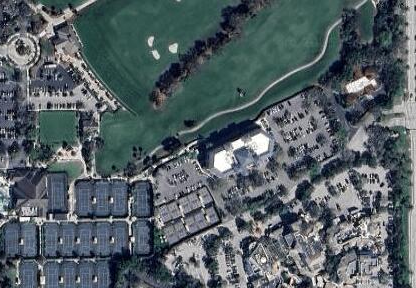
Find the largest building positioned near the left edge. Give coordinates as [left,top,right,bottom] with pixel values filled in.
[7,165,52,216]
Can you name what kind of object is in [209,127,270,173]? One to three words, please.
building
